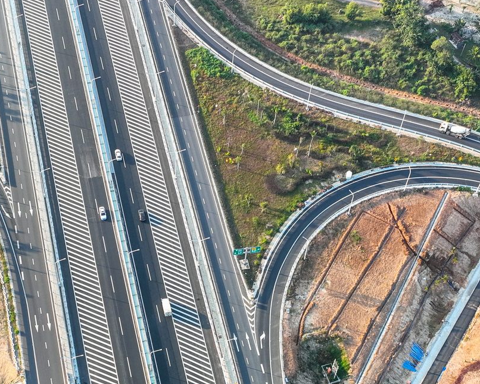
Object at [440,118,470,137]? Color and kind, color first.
white vehicle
